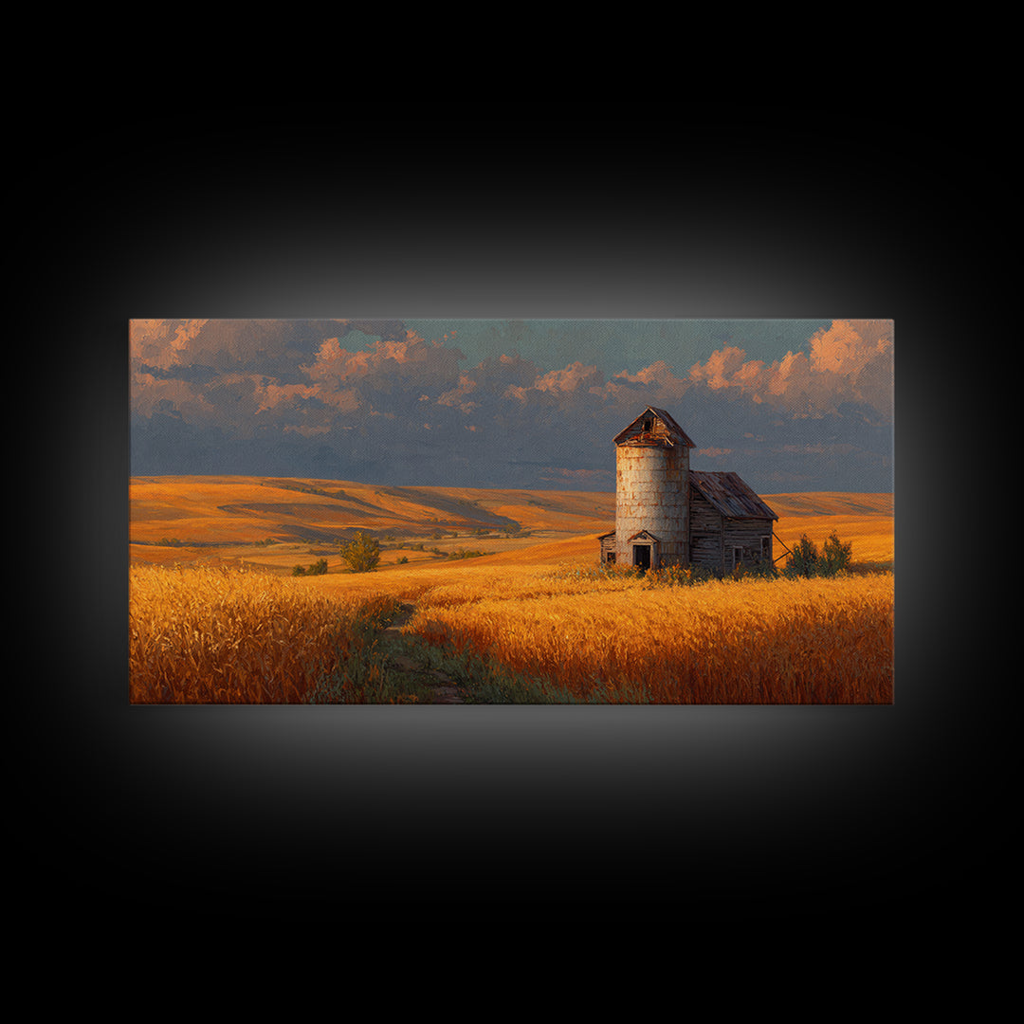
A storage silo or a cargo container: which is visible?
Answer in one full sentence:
This aerial view contains a storage silo.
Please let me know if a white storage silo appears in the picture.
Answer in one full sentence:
No, the scene contains no white storage silo.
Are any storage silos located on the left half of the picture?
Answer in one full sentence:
No, I can find no storage silo on the left half of the picture.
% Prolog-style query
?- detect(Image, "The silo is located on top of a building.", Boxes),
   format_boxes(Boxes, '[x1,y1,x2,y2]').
[612,405,695,568]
